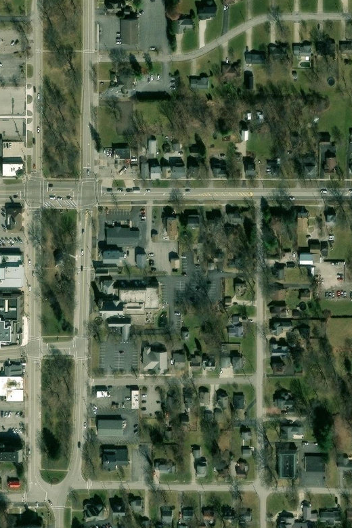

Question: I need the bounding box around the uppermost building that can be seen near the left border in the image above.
[3,158,23,178]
